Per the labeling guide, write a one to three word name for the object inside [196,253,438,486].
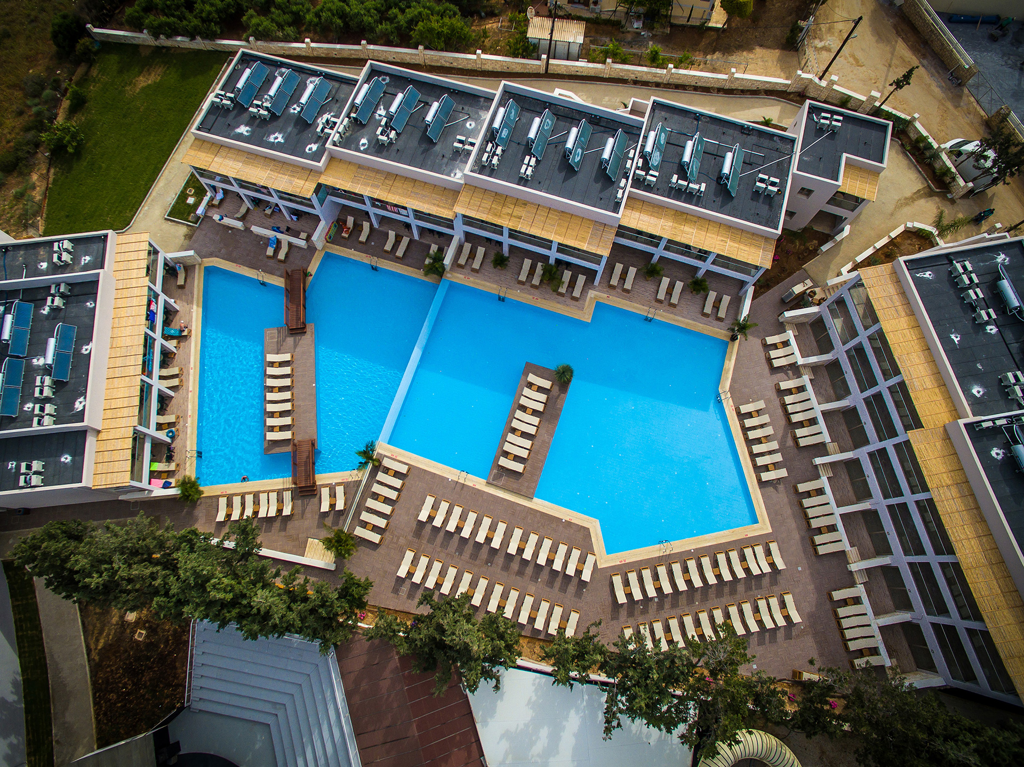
swimming pool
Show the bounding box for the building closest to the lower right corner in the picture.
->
[839,406,1024,711]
